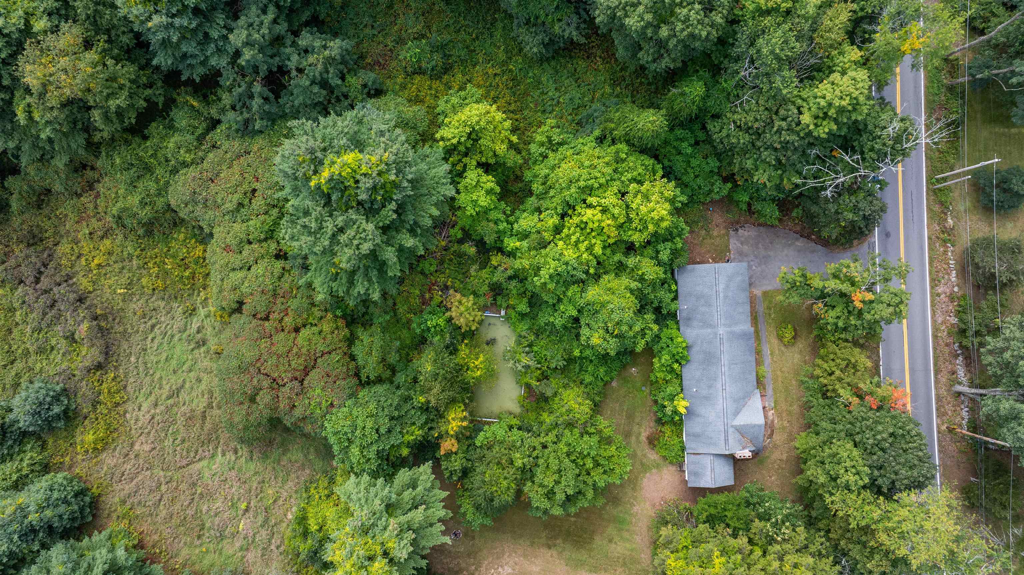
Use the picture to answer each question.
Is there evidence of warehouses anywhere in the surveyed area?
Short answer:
No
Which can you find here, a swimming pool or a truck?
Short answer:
swimming pool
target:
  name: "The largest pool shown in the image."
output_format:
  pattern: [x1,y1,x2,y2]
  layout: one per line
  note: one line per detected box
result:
[469,313,526,423]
